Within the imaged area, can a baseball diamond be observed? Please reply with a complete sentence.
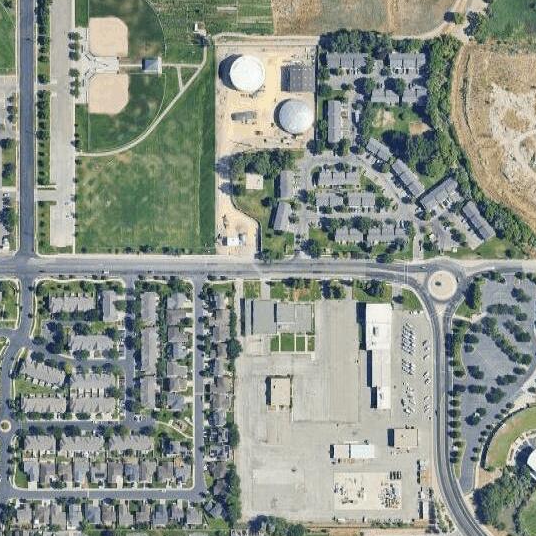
Yes, a baseball diamond is visible in the scene.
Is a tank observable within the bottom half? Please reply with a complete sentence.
No, no tank appears within the bottom half.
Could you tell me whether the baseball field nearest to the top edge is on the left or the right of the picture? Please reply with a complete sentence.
You can find the baseball field nearest to the top edge on the left side of the picture.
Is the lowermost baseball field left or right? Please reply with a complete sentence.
It is on the left.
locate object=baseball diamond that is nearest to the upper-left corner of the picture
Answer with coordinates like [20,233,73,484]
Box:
[82,15,129,59]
